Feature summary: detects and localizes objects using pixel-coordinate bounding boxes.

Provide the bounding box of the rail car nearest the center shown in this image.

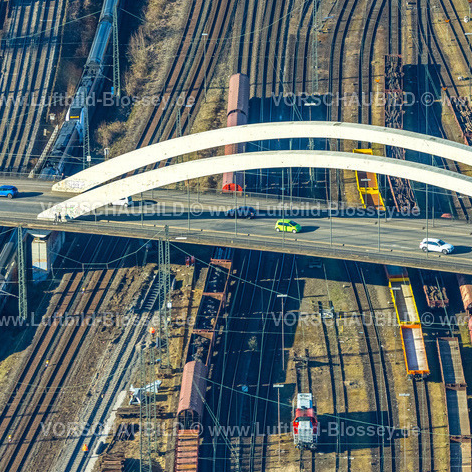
[208,247,234,268]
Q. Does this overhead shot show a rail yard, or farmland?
rail yard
